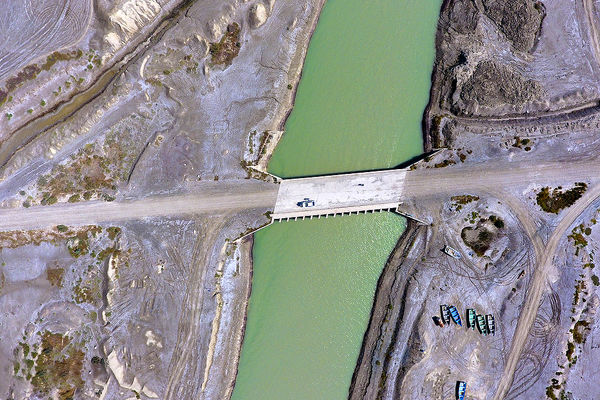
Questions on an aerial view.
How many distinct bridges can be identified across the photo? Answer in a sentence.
In total, 1 bridge can be seen.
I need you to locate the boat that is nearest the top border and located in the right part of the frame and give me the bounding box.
[444,246,462,258]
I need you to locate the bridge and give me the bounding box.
[233,149,448,244]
